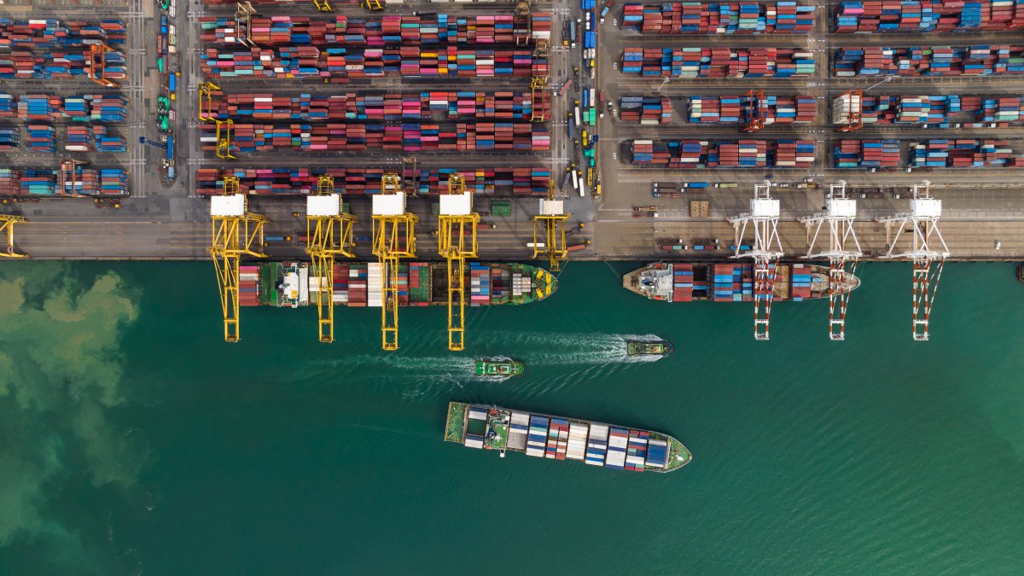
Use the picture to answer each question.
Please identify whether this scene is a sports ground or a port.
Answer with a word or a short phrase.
port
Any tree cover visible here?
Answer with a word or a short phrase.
No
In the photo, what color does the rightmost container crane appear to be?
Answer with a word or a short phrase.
white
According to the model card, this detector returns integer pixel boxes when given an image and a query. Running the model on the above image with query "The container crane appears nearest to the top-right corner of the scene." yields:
[836,86,865,132]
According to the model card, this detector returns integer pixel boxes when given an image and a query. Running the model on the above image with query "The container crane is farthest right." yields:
[869,177,952,342]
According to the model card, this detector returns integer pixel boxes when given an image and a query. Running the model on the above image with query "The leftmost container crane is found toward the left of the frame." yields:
[0,209,34,257]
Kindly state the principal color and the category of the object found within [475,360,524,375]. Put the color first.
green boat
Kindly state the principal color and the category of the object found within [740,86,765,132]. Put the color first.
red container crane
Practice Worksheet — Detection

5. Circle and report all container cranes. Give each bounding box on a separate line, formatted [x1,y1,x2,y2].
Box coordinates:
[528,77,546,124]
[235,1,261,47]
[400,153,421,199]
[303,174,362,341]
[791,177,863,342]
[532,38,551,83]
[371,174,422,351]
[196,78,223,123]
[203,173,275,341]
[740,86,765,132]
[721,177,785,342]
[869,177,952,342]
[60,158,92,201]
[0,209,34,257]
[836,86,865,132]
[523,179,571,280]
[514,0,532,47]
[437,174,483,351]
[214,119,241,161]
